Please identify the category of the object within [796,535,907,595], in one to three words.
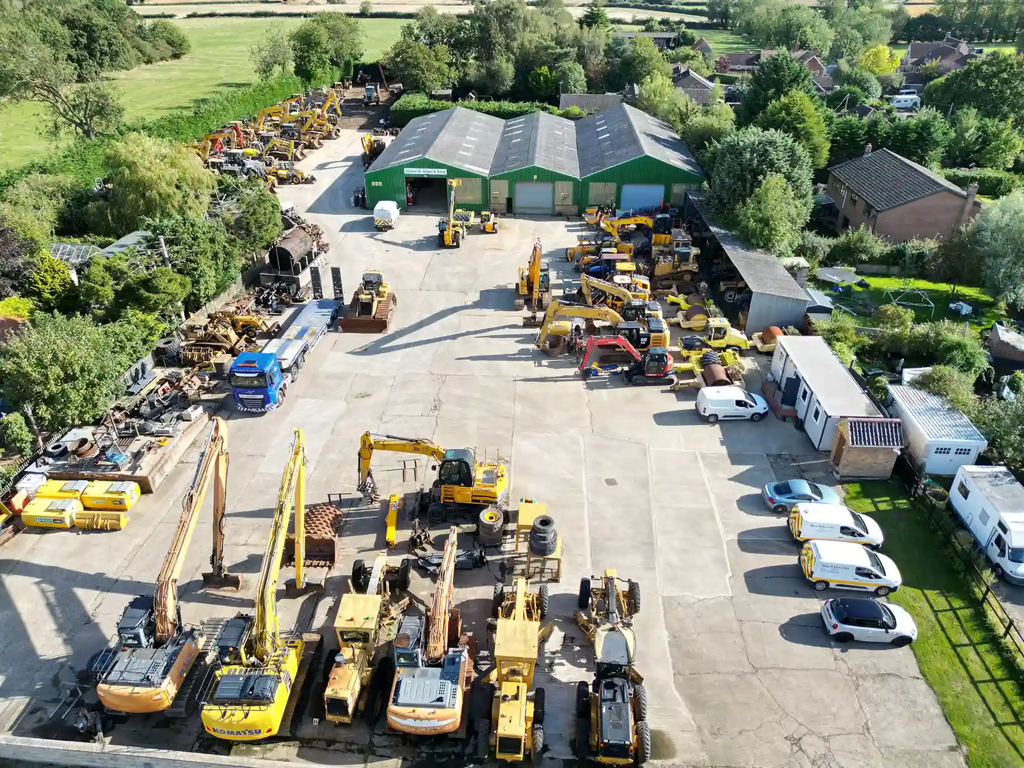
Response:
van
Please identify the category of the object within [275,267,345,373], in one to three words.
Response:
vehicle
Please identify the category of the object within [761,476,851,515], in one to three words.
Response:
car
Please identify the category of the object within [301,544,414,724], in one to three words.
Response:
work vehicle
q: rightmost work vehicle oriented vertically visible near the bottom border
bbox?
[575,567,664,763]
